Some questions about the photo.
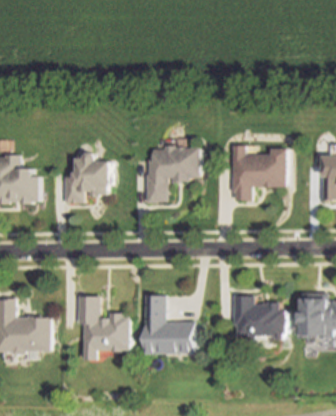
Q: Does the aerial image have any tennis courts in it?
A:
No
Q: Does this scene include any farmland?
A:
Yes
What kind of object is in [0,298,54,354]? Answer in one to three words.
house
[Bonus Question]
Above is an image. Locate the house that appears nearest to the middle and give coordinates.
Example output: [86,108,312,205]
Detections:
[145,138,202,204]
